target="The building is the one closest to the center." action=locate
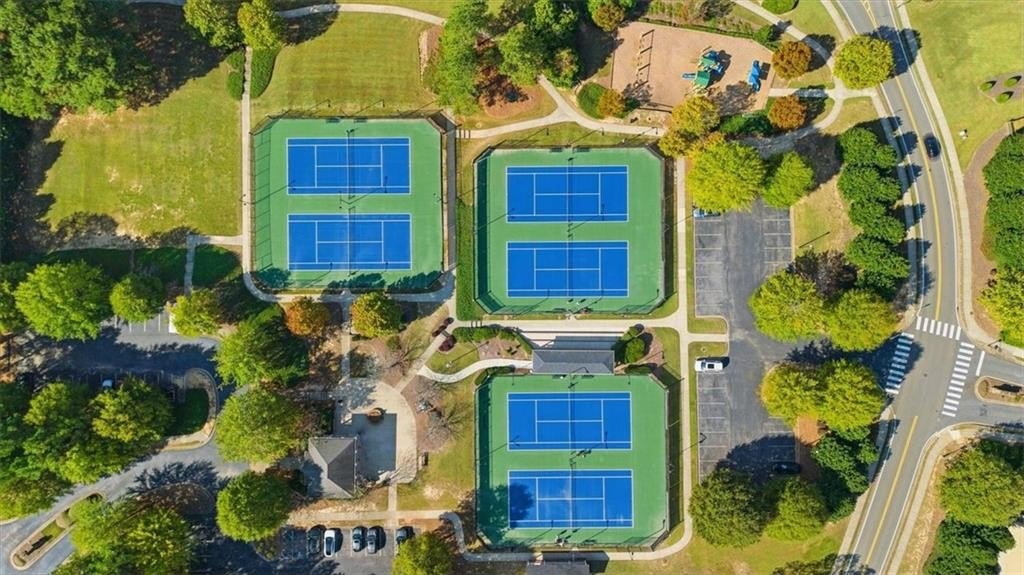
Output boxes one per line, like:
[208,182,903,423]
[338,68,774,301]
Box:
[532,347,615,374]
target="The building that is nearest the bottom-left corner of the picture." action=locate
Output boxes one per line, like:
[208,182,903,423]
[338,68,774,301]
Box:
[309,429,364,498]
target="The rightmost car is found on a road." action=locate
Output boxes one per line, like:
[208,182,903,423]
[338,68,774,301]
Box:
[924,134,942,159]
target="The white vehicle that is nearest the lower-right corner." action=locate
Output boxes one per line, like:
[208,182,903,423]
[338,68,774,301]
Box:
[696,359,723,371]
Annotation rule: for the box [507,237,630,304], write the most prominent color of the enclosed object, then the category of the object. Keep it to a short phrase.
blue tennis court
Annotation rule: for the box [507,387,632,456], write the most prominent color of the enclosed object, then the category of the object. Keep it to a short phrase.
blue tennis court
